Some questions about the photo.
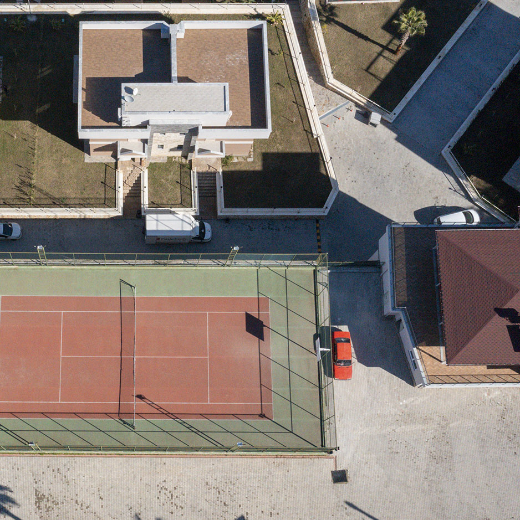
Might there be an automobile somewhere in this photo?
Yes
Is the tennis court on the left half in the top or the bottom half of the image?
bottom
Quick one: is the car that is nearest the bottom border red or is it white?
red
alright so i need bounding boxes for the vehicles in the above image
[334,329,358,380]
[144,215,208,245]
[435,208,481,223]
[0,218,22,241]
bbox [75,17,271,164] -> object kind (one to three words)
house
